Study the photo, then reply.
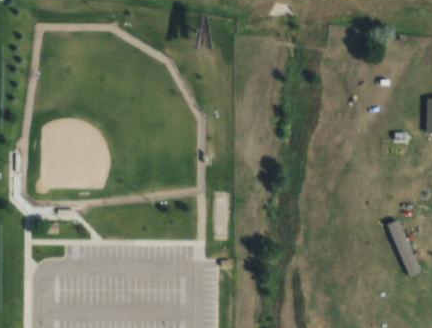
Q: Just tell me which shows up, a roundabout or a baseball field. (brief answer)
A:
baseball field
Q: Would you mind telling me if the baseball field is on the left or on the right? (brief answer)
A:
left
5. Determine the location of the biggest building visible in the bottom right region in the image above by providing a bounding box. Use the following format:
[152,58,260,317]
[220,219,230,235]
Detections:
[386,222,420,276]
